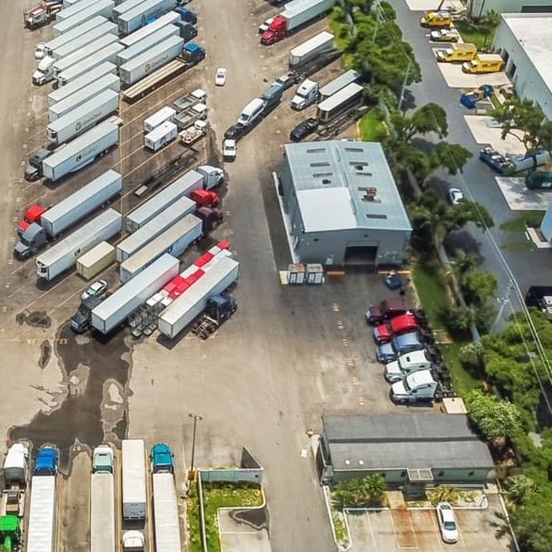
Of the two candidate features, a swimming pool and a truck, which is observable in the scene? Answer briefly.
truck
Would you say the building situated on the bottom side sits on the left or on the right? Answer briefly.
right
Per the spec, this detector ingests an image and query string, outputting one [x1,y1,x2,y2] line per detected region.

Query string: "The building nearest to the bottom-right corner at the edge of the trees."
[322,413,491,504]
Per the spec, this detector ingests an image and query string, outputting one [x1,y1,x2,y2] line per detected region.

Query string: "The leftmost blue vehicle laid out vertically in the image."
[34,437,60,499]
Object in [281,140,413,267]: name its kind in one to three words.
building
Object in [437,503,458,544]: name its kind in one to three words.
car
